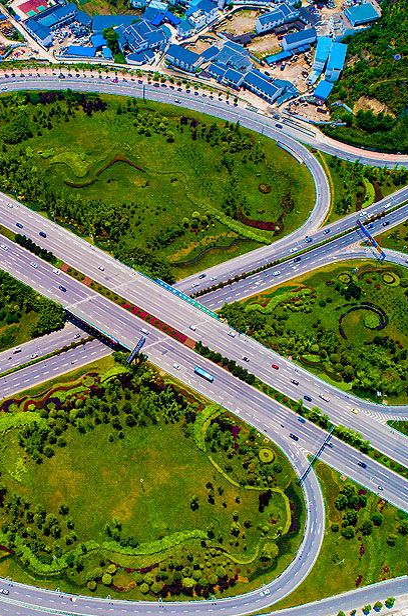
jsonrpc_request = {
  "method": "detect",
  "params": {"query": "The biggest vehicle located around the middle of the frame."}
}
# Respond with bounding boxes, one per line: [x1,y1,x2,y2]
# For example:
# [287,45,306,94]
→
[194,365,216,381]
